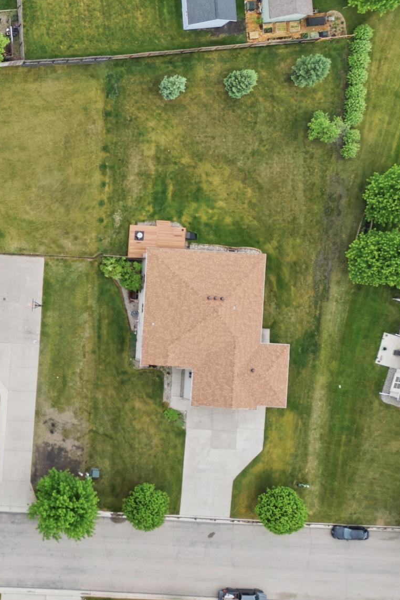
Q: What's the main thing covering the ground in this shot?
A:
grass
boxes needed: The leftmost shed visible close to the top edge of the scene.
[179,0,238,31]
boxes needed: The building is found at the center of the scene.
[135,247,290,410]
